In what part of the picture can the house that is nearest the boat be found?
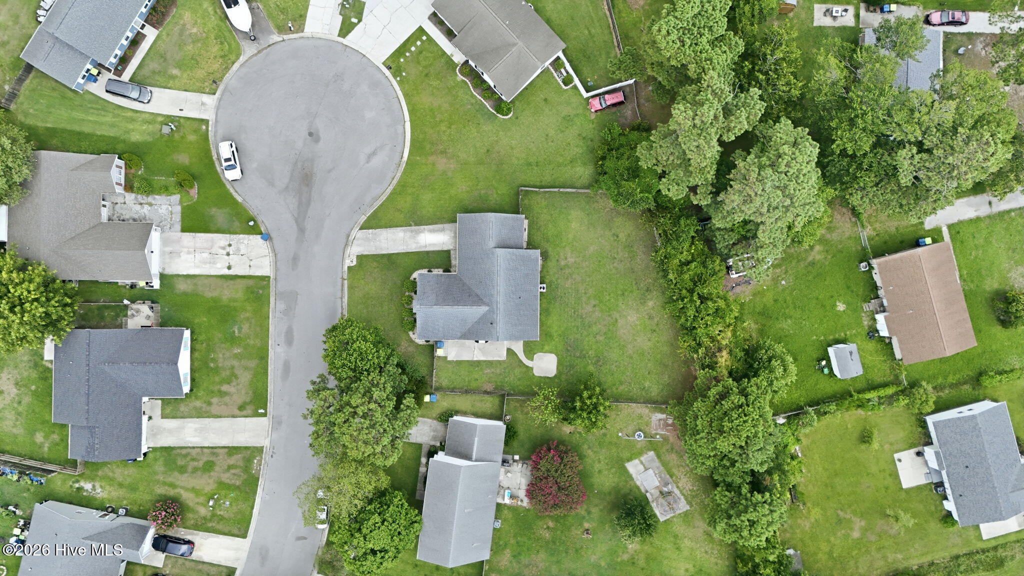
top left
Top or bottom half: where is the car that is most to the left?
top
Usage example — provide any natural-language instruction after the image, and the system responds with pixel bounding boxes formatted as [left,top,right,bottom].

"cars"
[926,8,969,28]
[105,79,153,106]
[588,90,626,113]
[151,532,197,558]
[219,139,243,182]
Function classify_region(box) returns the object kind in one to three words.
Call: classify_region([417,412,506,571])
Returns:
house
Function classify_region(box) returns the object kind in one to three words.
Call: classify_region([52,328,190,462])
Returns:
house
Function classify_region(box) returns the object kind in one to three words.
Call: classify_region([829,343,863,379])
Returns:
shed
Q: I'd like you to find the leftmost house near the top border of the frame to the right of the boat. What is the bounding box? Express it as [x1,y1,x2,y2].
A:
[425,0,566,104]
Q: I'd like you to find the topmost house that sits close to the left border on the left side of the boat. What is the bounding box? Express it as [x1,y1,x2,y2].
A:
[20,0,158,91]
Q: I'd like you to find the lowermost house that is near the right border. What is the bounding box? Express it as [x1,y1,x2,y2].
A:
[918,400,1024,527]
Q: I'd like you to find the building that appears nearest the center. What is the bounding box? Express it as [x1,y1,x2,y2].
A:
[414,212,541,343]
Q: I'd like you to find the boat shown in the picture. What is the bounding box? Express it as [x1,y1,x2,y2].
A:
[225,0,252,32]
